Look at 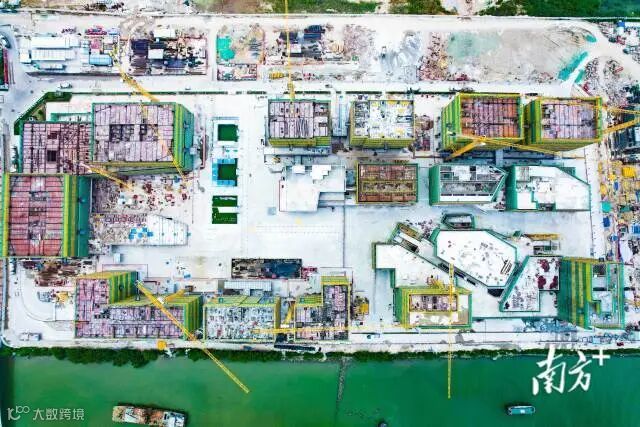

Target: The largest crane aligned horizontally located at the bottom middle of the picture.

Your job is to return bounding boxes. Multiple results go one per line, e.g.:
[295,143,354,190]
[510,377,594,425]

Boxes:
[252,296,372,329]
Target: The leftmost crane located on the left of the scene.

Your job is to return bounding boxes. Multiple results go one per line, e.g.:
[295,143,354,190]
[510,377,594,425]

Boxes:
[74,166,138,194]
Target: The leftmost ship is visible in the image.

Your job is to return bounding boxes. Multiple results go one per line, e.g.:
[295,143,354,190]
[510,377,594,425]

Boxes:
[112,403,187,427]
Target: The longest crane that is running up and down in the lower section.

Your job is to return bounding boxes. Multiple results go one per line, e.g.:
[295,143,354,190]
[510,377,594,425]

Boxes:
[436,263,458,399]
